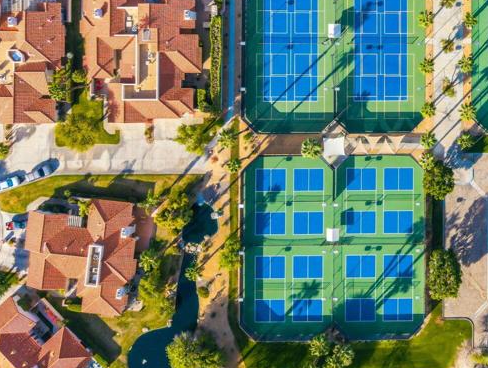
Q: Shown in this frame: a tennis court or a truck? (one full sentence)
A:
Visible in the photo is a tennis court.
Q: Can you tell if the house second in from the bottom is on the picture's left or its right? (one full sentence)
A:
You can find the house second in from the bottom on the left side of the picture.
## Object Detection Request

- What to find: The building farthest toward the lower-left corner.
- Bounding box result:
[0,295,94,368]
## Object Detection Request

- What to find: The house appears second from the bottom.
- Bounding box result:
[26,199,142,317]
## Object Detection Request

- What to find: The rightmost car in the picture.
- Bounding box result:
[27,163,53,179]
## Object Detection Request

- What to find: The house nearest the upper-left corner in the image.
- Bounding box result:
[0,0,71,125]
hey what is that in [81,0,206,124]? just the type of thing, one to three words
house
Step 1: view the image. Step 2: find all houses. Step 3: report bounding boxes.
[0,295,94,368]
[26,199,142,317]
[81,0,206,124]
[0,0,71,125]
